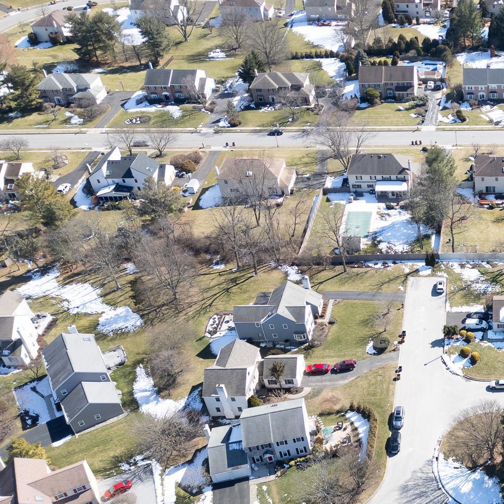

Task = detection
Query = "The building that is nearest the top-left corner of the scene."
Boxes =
[31,10,81,44]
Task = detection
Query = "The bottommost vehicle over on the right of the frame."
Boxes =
[388,433,400,455]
